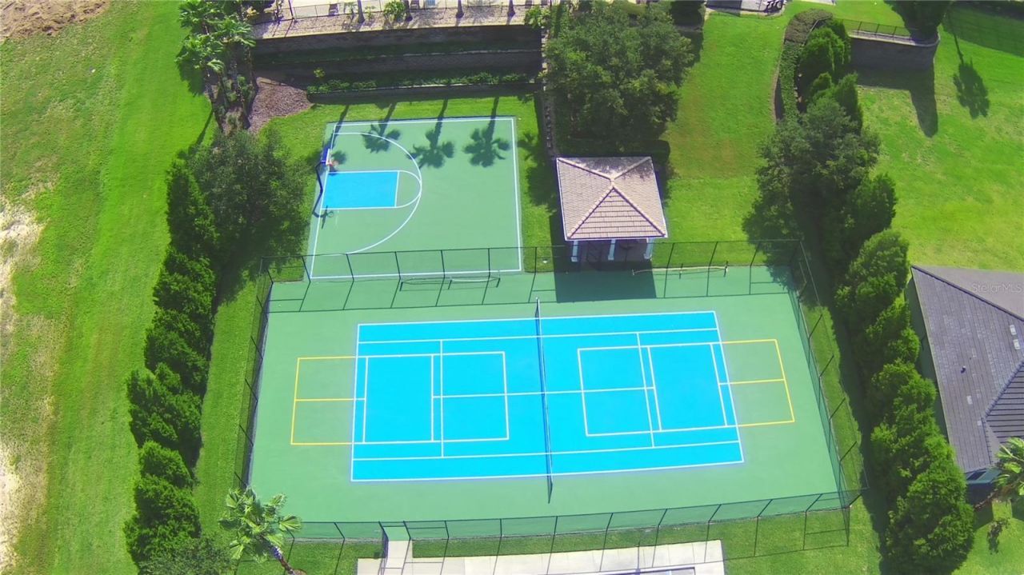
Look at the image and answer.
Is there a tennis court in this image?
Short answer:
Yes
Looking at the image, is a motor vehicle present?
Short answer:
No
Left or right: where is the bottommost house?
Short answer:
right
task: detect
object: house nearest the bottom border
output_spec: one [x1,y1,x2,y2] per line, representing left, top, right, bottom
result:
[903,267,1024,495]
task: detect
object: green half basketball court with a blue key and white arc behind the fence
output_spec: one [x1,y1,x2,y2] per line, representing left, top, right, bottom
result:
[305,117,526,280]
